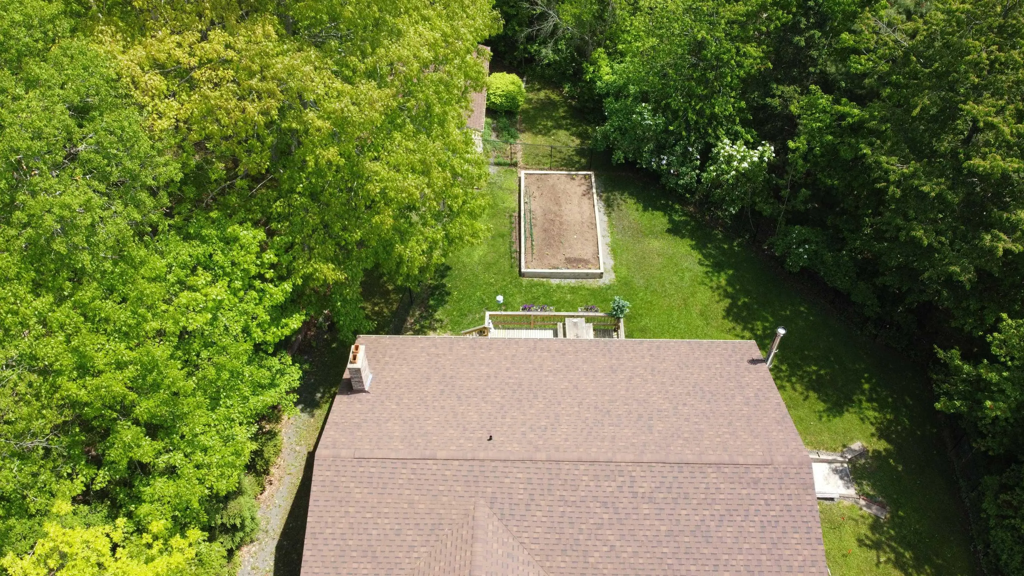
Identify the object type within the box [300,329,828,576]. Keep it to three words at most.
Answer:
house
